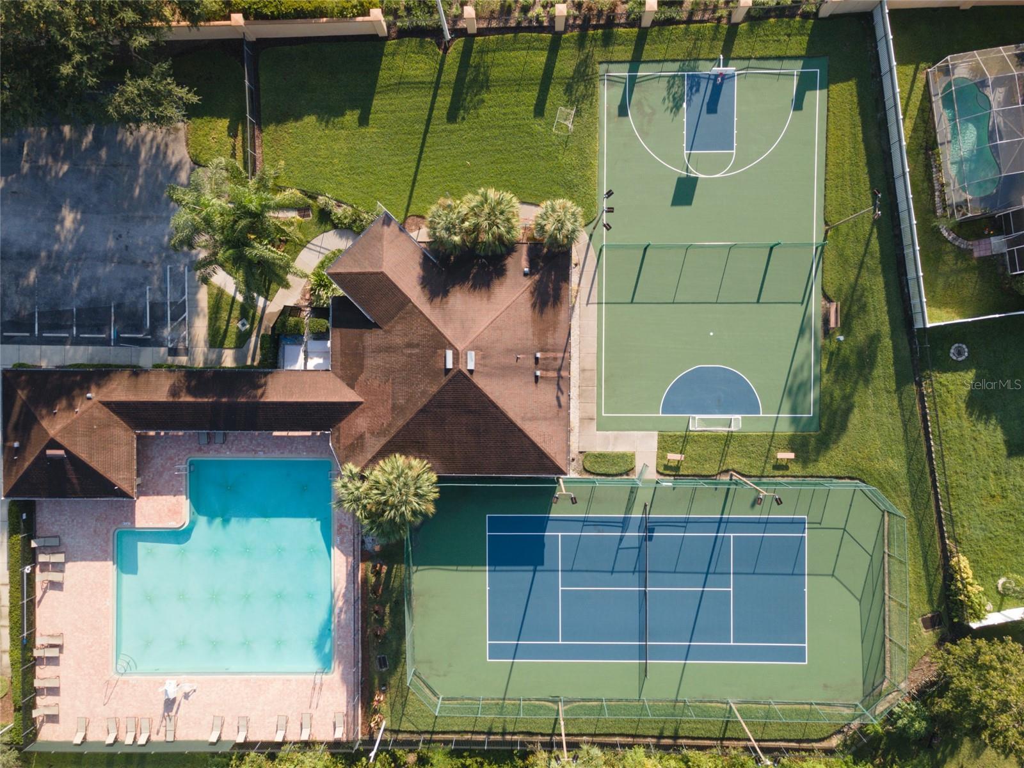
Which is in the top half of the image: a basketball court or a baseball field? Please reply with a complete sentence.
It is a basketball court that can be seen in the top half of the image.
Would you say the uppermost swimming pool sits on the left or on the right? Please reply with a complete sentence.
The uppermost swimming pool is on the right side of the image.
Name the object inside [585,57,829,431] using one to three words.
basketball court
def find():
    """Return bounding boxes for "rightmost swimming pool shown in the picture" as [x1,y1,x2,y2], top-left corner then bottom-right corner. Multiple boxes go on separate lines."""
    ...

[940,74,1004,200]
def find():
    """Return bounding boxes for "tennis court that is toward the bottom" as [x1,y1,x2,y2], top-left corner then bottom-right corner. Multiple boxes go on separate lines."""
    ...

[413,477,887,699]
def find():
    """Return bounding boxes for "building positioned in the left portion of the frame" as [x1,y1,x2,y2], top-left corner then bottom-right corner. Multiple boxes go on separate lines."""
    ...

[1,203,572,500]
